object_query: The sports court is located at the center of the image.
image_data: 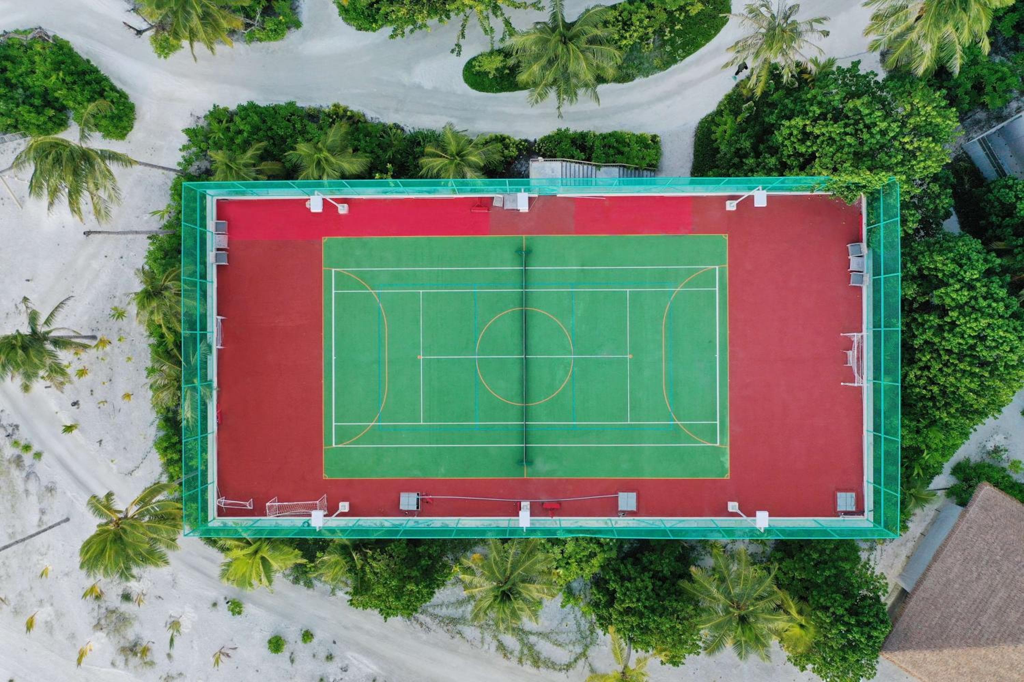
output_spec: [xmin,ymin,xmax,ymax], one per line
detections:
[217,192,862,517]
